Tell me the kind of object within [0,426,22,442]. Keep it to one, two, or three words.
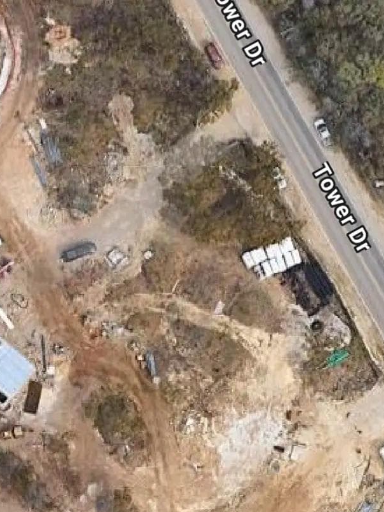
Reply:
work vehicle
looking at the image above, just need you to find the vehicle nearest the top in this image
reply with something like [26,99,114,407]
[204,41,225,68]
